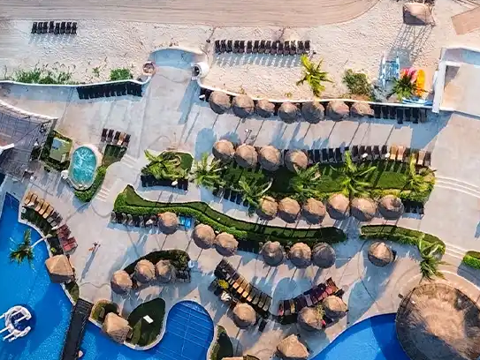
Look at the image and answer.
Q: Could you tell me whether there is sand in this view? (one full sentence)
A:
Yes, some sand is visible.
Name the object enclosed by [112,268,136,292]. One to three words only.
umbrella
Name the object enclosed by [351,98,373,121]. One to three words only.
umbrella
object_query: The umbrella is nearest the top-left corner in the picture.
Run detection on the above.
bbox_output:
[210,90,234,113]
